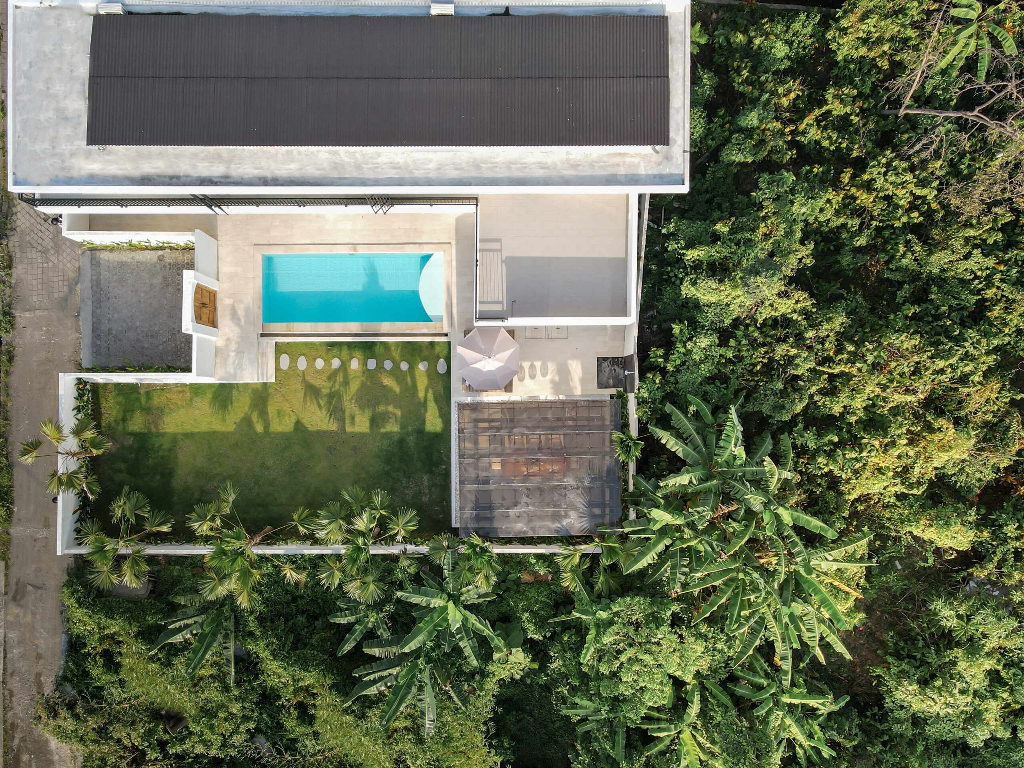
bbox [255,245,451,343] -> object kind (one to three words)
swimming pool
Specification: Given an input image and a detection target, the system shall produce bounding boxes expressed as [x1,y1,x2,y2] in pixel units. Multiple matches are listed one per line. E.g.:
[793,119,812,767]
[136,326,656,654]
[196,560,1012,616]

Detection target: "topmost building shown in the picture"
[8,0,690,324]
